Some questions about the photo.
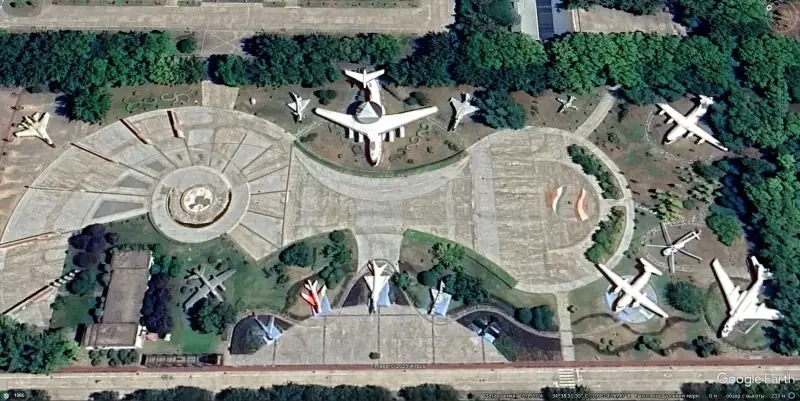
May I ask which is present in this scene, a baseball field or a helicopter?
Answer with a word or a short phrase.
helicopter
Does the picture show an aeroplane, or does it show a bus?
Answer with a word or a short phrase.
aeroplane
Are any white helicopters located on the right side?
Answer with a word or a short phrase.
Yes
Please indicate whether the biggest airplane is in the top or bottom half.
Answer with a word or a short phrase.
top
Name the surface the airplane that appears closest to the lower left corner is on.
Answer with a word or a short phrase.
grass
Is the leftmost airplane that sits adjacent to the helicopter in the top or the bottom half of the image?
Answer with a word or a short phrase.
bottom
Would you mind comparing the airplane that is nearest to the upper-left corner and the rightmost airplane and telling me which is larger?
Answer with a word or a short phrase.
the rightmost airplane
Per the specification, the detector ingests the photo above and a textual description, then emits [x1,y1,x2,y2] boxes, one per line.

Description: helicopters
[645,222,700,274]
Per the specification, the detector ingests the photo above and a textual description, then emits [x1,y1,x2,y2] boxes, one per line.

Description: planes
[712,256,786,337]
[477,316,499,340]
[285,92,309,124]
[310,68,433,166]
[430,280,450,314]
[559,95,577,113]
[360,260,387,312]
[301,281,325,313]
[16,109,56,149]
[652,89,720,152]
[188,266,236,311]
[252,312,274,338]
[598,257,664,320]
[450,95,478,135]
